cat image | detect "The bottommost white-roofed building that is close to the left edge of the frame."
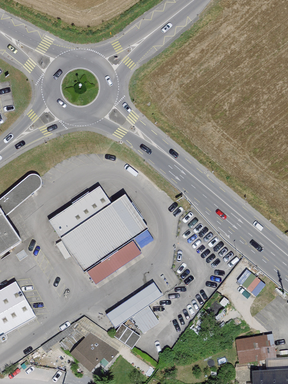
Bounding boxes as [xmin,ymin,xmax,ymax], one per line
[0,282,36,338]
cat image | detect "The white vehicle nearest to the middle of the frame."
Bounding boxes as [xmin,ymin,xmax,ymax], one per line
[123,162,140,176]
